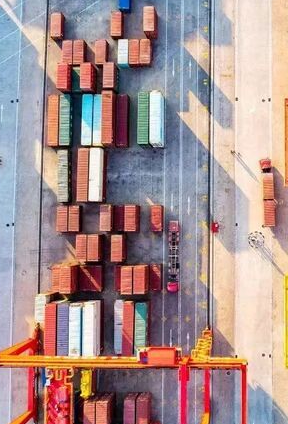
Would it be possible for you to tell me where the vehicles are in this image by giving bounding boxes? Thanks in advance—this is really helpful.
[166,223,181,292]
[259,158,273,177]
